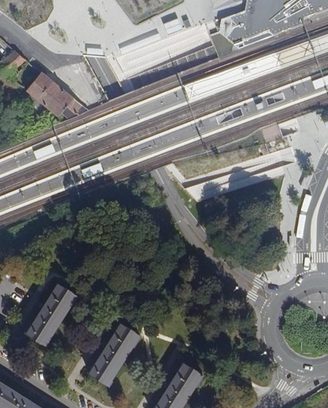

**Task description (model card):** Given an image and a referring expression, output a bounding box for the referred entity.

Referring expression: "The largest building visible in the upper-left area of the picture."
[26,72,75,117]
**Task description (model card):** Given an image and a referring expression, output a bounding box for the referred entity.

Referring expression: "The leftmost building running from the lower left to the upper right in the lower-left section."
[26,284,76,347]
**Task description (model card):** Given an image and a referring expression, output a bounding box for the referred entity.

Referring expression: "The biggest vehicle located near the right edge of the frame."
[296,194,314,238]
